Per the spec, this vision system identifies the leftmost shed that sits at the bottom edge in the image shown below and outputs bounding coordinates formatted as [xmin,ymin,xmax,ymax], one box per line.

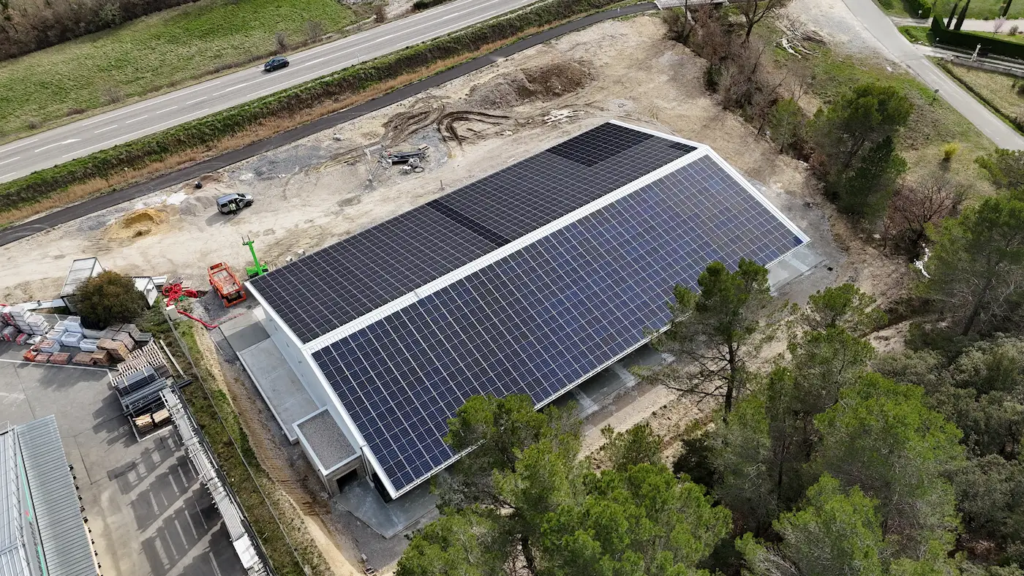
[0,416,114,576]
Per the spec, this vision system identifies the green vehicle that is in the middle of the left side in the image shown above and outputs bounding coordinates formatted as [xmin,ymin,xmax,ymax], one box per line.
[239,237,273,278]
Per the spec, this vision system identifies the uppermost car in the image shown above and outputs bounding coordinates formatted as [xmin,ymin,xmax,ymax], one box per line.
[262,57,290,73]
